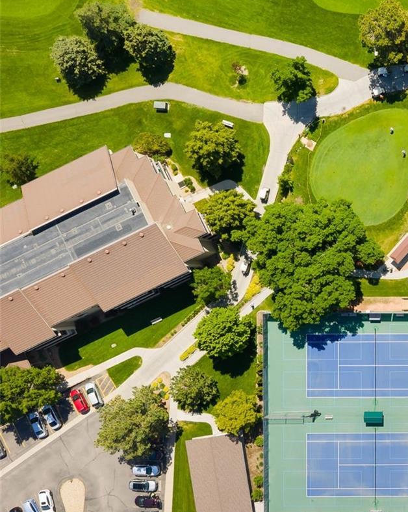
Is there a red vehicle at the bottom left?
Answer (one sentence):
Yes, a red vehicle can be seen at the bottom left.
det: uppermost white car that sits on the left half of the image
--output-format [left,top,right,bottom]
[86,381,106,405]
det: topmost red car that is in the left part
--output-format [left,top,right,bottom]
[72,388,91,415]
